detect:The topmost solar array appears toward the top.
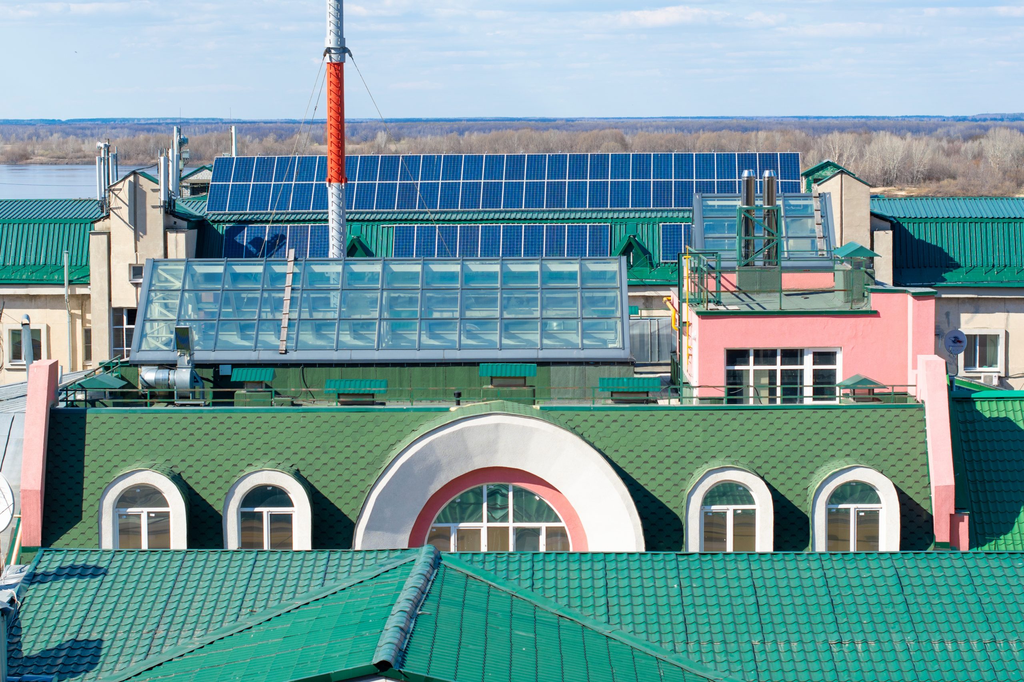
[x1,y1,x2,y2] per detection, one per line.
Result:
[208,152,800,212]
